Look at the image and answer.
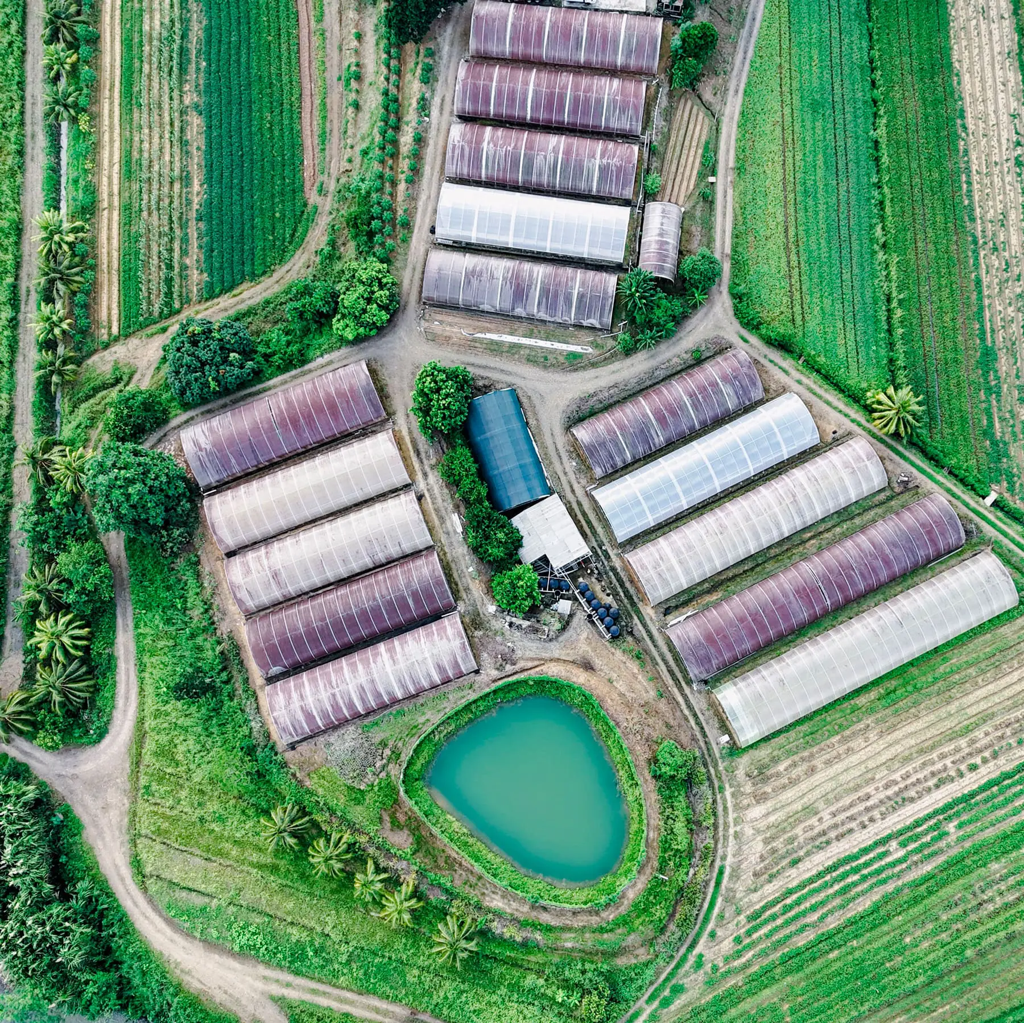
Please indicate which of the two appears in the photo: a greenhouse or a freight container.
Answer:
greenhouse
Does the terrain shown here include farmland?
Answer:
Yes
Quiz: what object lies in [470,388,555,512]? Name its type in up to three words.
building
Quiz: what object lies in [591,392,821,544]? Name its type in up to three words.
greenhouse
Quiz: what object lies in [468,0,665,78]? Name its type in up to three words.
greenhouse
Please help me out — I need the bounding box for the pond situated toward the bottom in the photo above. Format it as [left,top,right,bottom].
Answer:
[426,692,631,887]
